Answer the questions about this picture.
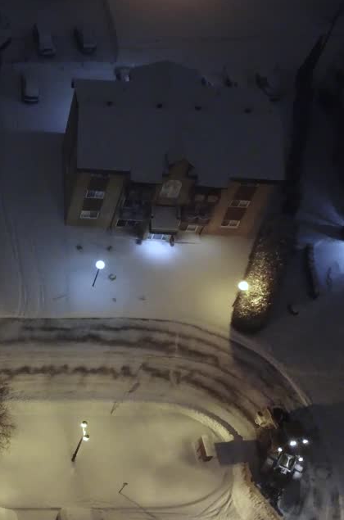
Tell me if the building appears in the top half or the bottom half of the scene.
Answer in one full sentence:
Seen from above, the building lies in the top half of the view.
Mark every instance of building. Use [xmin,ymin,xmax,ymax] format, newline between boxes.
[64,59,285,250]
